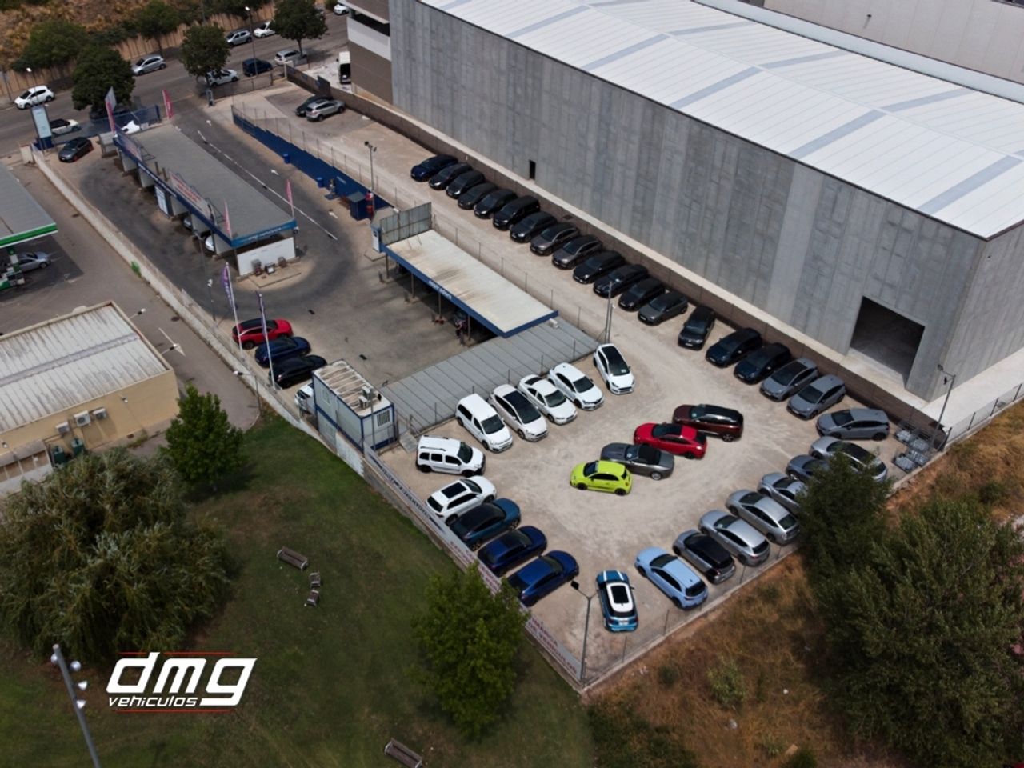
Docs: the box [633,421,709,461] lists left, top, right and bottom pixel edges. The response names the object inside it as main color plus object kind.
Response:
red car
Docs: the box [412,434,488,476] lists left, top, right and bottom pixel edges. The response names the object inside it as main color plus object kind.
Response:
white car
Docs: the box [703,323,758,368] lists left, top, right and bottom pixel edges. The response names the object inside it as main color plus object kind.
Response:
black car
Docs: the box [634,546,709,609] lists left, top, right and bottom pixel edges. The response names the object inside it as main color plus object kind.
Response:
blue car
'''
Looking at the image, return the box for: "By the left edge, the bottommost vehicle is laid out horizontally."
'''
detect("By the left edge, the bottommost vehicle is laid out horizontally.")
[0,247,57,271]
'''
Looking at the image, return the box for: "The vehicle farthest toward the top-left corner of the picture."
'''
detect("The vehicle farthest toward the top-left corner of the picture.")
[14,86,57,108]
